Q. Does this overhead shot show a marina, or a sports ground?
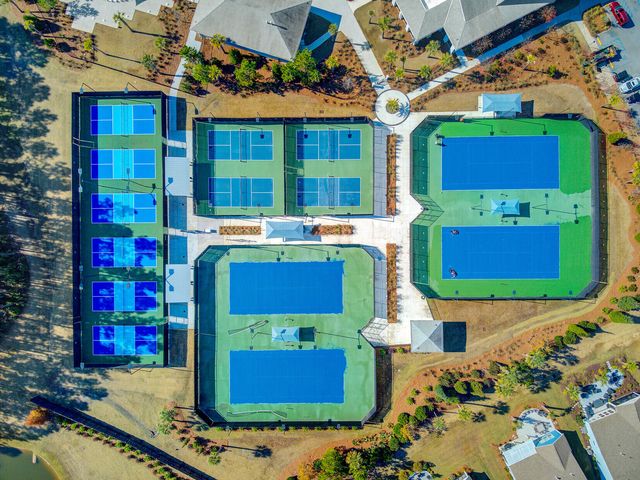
sports ground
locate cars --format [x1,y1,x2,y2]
[612,0,631,24]
[629,89,640,102]
[620,75,640,92]
[617,63,640,82]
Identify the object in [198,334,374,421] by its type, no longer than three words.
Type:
tennis court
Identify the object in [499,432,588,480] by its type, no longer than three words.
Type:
house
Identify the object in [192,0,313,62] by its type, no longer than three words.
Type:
building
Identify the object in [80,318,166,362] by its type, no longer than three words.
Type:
sports court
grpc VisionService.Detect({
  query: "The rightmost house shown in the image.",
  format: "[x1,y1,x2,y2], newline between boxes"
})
[581,386,640,480]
